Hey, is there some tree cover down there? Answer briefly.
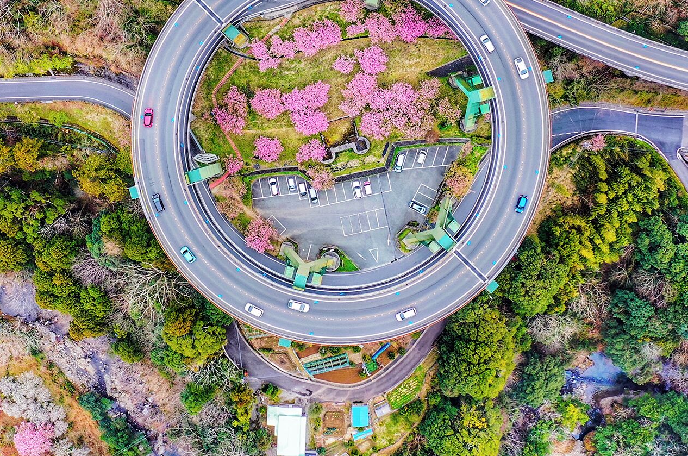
Yes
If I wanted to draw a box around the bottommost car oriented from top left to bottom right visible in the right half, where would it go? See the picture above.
[408,200,426,215]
